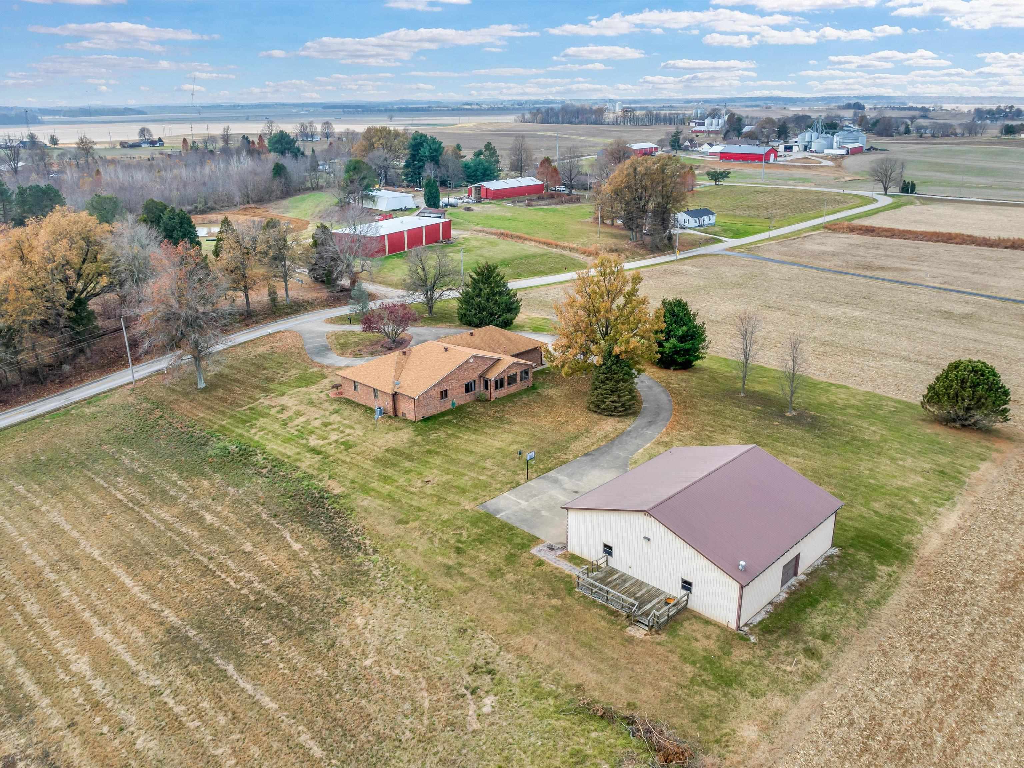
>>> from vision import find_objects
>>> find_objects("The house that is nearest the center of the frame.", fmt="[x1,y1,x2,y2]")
[334,326,548,421]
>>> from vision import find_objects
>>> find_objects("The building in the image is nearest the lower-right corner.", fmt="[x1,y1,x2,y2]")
[561,446,845,635]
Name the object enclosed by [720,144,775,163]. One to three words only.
barn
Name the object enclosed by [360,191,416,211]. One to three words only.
shed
